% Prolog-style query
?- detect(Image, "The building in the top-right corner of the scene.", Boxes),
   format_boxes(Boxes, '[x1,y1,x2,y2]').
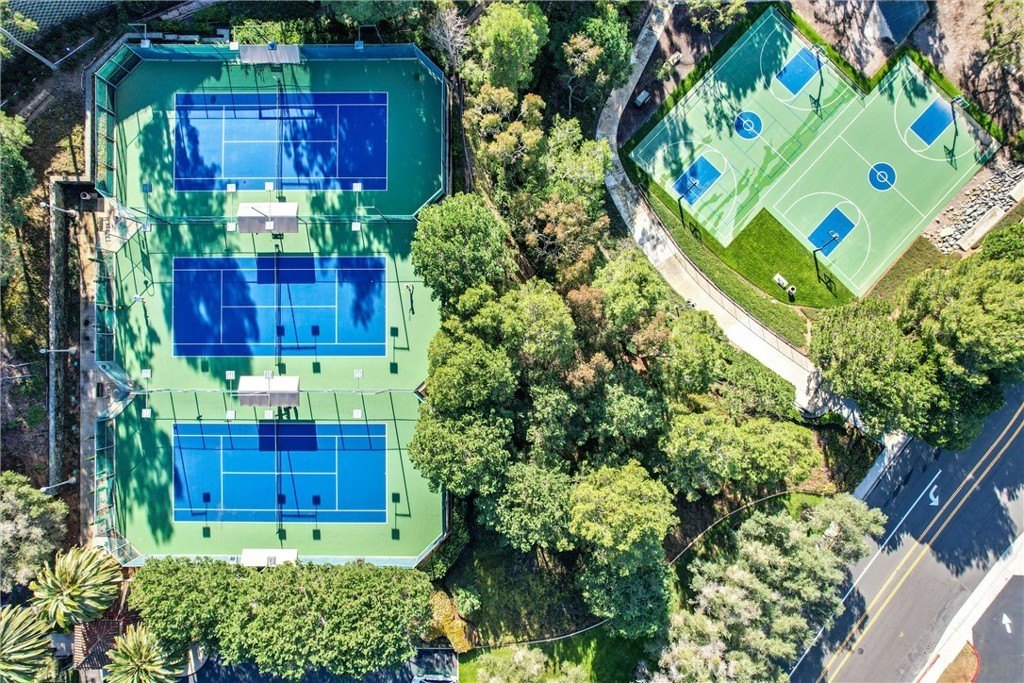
[865,0,931,51]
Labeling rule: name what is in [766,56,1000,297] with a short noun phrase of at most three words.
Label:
basketball court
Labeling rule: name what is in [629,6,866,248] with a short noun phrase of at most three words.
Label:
basketball court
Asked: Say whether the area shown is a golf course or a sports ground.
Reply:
sports ground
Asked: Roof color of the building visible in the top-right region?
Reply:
blue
